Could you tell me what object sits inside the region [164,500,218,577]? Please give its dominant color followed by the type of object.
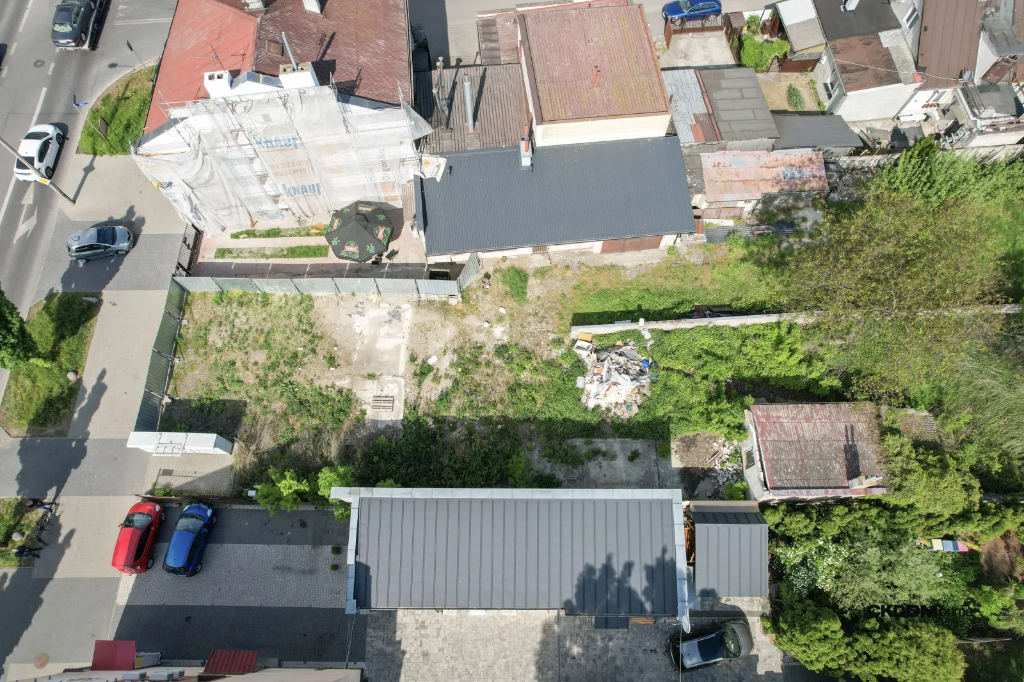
blue car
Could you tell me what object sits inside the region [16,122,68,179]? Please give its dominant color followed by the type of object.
white car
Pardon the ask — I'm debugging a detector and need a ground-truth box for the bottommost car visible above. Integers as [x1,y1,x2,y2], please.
[667,619,754,675]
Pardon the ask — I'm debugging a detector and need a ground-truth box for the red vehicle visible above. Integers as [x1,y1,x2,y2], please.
[114,499,168,572]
